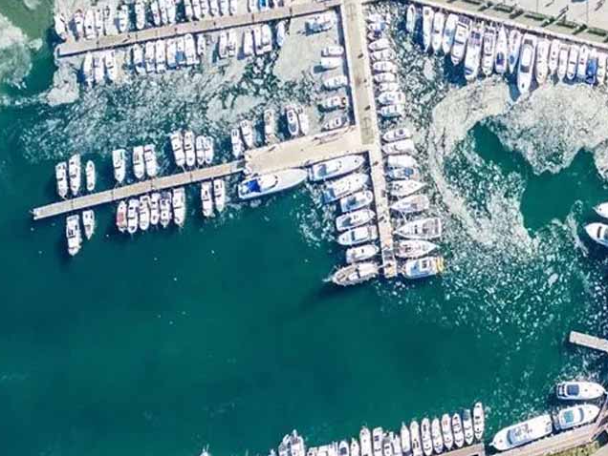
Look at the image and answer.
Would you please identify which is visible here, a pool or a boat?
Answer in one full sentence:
I can see a boat in this picture.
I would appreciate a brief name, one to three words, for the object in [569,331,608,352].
pier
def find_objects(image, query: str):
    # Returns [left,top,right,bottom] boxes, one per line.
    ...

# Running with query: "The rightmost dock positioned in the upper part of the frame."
[342,0,400,279]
